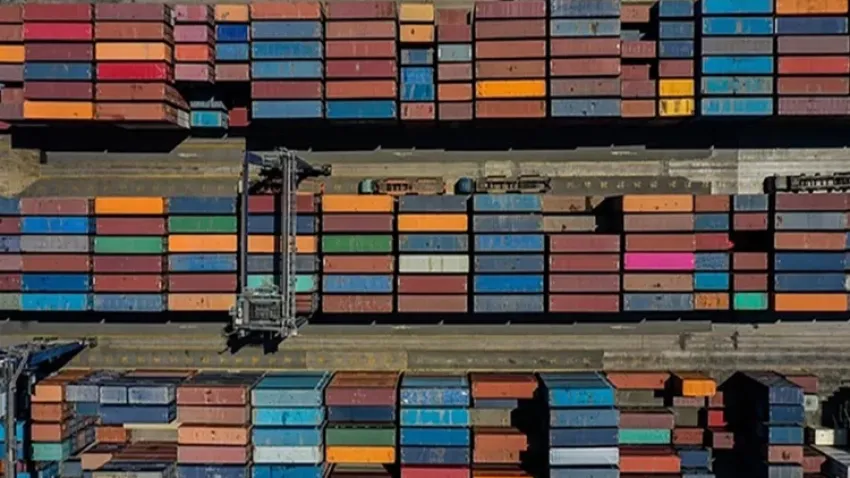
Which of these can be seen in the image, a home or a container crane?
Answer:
container crane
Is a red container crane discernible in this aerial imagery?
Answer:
No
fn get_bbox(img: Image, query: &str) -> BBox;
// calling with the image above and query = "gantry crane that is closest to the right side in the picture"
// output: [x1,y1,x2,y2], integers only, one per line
[222,144,334,339]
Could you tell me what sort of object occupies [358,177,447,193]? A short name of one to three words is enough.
vehicle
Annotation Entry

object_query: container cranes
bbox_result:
[222,144,334,339]
[0,337,97,478]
